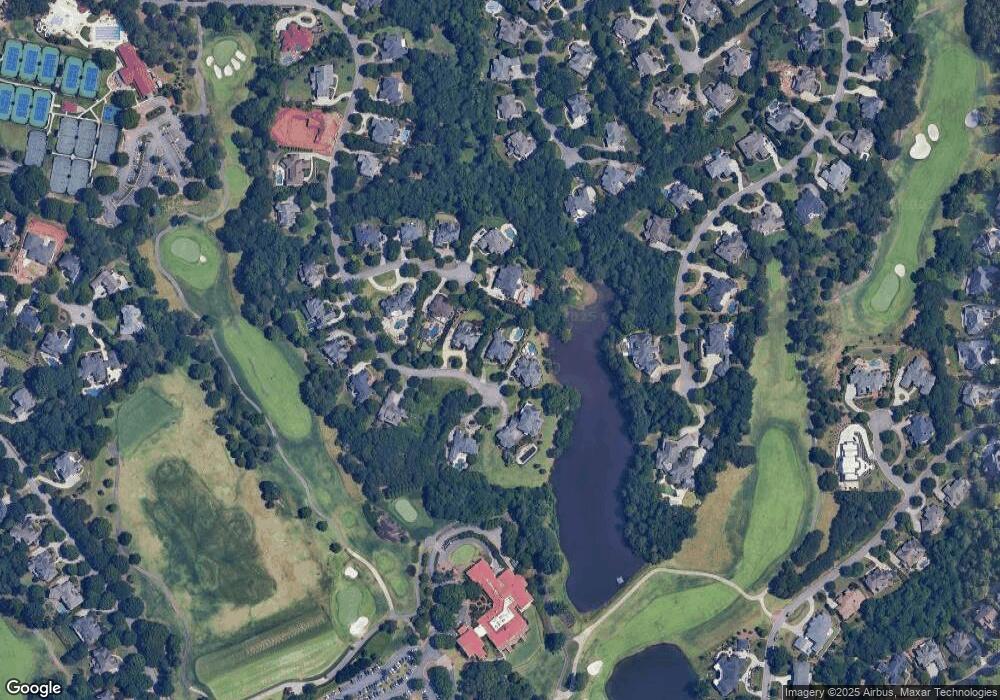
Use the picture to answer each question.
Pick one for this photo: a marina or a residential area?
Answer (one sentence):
This image shows a residential area.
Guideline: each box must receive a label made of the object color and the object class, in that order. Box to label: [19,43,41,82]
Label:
blue tennis court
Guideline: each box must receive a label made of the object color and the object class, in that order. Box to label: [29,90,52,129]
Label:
blue tennis court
